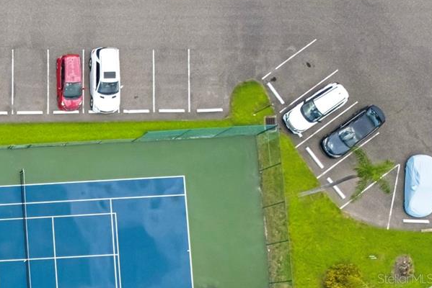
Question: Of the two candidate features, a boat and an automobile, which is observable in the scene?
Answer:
automobile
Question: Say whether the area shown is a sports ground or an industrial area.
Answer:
sports ground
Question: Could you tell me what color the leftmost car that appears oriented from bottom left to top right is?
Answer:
white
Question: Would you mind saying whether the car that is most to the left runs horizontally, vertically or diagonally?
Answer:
vertically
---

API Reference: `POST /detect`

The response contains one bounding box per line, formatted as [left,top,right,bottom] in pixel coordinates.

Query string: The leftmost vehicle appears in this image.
[55,53,87,111]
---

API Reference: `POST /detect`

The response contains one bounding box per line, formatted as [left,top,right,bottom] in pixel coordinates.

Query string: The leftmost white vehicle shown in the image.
[88,44,124,114]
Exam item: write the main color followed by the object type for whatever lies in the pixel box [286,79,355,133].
white car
